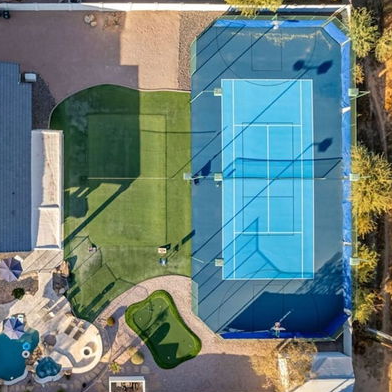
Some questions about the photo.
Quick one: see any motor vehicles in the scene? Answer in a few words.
No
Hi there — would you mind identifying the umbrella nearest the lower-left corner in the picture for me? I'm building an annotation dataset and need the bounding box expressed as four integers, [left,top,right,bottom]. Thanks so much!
[4,316,26,337]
